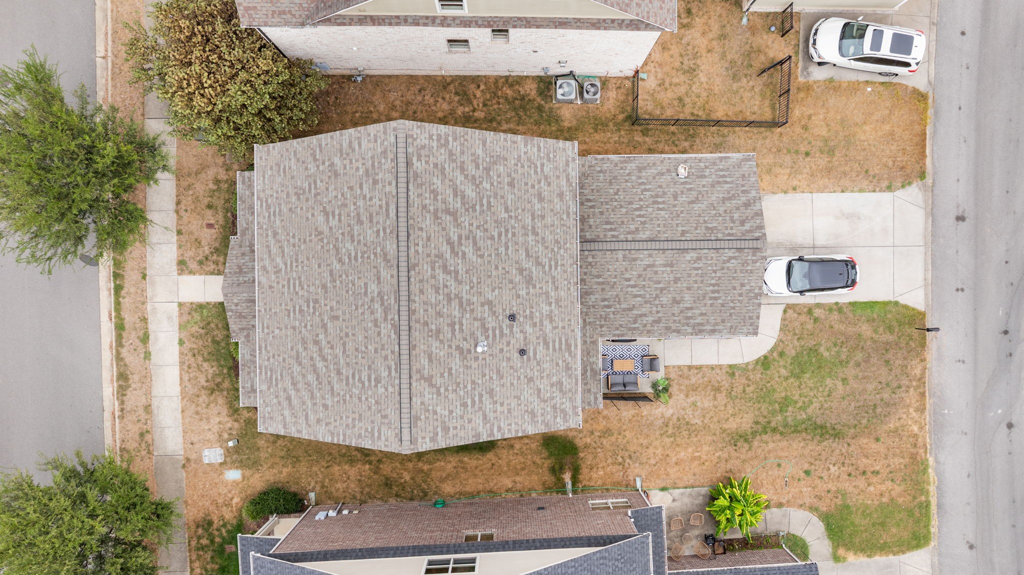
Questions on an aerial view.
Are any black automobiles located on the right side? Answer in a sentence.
No, I can find no black automobile on the right side.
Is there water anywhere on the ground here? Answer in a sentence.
No, the picture contains no water.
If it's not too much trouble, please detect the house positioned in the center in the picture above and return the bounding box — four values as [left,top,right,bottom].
[220,118,768,454]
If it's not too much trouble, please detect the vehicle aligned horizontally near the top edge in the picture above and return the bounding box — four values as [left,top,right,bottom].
[808,17,926,77]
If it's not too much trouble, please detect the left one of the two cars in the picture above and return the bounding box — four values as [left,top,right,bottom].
[763,252,860,300]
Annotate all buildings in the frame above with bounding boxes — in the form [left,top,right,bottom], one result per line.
[236,492,670,575]
[743,0,916,12]
[231,0,680,76]
[220,118,768,454]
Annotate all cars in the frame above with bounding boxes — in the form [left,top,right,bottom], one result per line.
[808,17,926,77]
[763,252,860,300]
